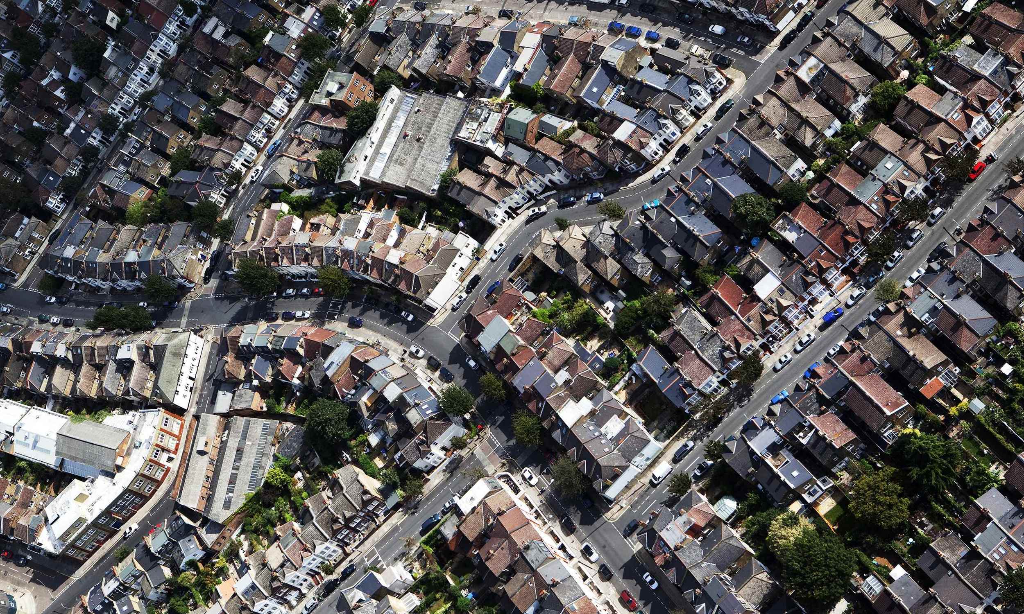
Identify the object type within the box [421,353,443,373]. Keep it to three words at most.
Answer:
vehicle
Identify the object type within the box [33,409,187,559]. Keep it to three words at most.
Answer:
building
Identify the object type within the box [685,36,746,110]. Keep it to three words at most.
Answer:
house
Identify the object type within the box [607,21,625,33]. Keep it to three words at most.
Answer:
vehicle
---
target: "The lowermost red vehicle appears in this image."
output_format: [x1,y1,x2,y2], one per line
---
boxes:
[619,589,639,611]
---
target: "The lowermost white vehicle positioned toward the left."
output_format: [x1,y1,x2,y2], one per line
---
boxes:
[303,595,320,613]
